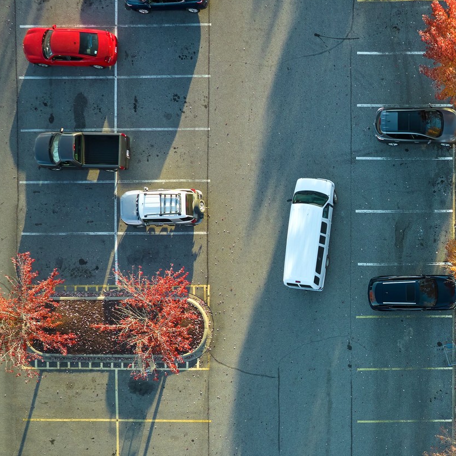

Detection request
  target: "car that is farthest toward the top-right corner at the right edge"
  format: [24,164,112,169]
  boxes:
[374,101,456,147]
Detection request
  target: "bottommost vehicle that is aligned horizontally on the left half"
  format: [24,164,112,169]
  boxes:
[118,184,210,229]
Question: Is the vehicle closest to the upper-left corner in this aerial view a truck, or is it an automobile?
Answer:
automobile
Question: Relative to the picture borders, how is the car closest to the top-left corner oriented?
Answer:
from left to right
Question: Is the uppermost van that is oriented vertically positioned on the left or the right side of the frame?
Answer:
right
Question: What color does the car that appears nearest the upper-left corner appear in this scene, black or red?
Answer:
red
